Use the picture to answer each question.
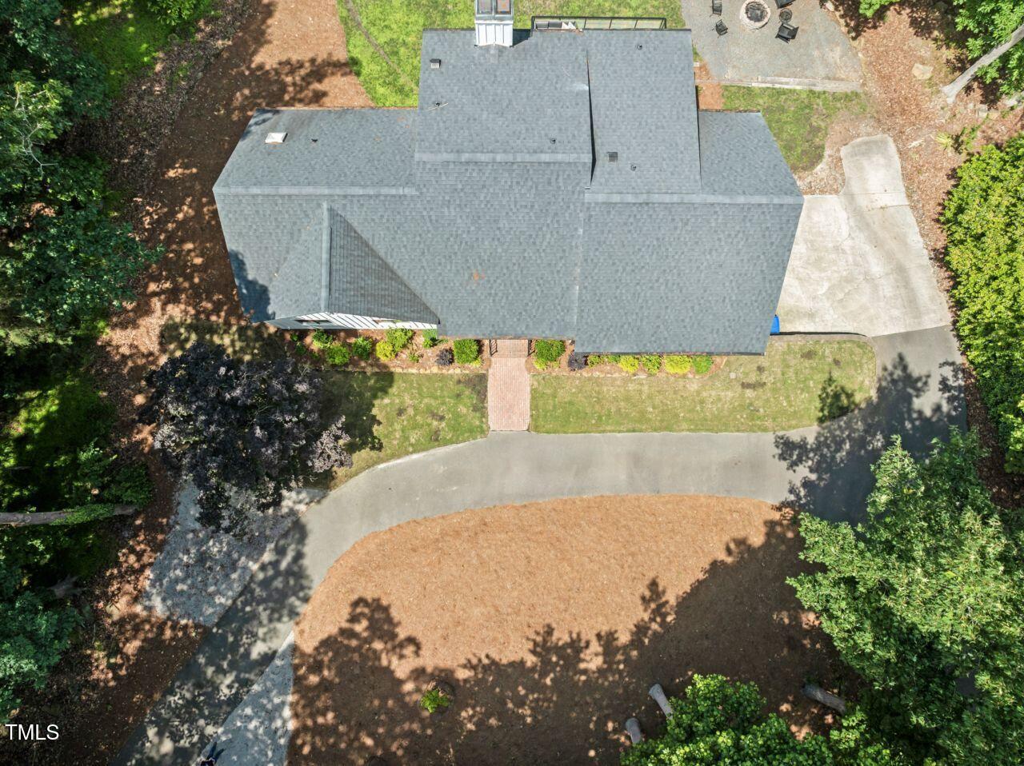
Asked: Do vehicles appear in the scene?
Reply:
No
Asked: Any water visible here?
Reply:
No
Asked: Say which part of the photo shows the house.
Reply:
top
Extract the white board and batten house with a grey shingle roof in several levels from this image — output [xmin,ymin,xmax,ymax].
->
[214,0,803,359]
